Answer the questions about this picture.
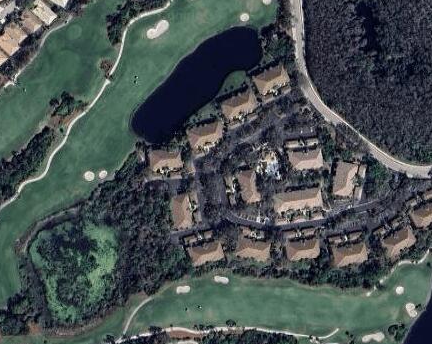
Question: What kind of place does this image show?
golf course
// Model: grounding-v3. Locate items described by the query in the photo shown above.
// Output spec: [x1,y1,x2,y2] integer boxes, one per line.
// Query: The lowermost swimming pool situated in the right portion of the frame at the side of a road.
[262,151,280,179]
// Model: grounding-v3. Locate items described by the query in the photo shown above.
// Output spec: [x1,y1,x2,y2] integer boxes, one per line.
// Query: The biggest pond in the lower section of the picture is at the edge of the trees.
[31,224,118,322]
